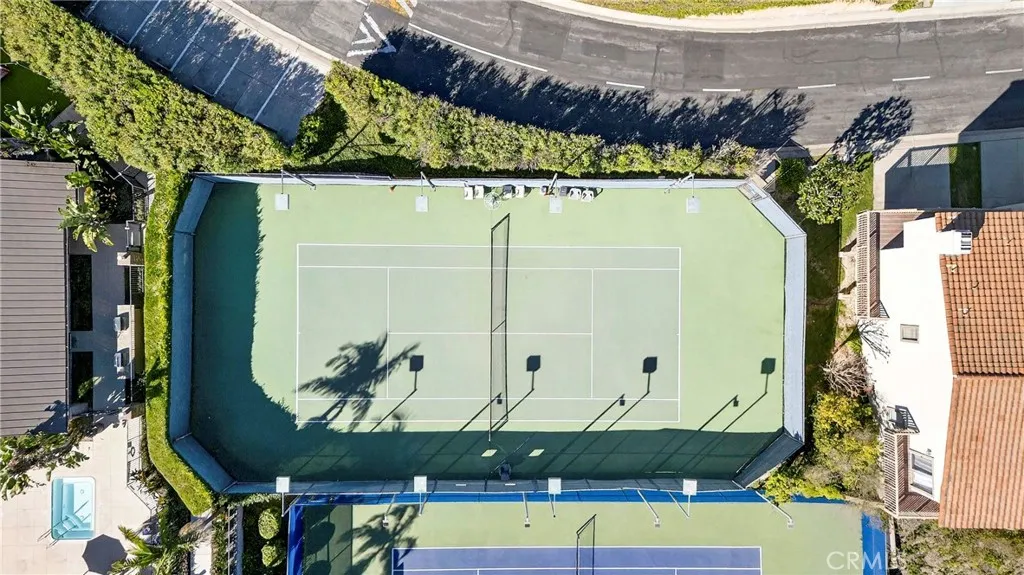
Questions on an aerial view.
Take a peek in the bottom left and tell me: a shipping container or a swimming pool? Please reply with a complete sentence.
You can see a swimming pool in the bottom left.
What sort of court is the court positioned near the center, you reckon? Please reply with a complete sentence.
What you see as the court positioned near the center is a tennis court.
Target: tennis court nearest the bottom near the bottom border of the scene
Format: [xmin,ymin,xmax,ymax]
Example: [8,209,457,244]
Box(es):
[306,503,861,575]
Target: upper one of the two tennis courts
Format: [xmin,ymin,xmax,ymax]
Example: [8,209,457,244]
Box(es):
[197,186,785,477]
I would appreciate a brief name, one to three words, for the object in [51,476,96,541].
swimming pool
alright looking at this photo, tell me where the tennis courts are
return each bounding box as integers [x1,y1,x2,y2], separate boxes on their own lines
[306,503,861,575]
[197,186,785,477]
